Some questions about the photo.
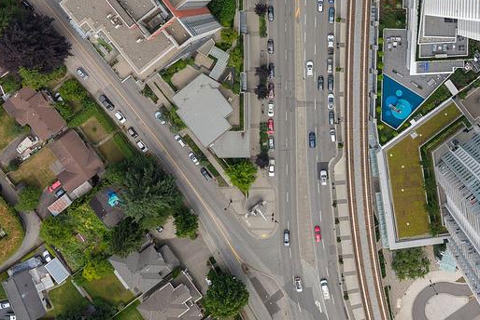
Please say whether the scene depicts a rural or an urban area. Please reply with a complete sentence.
It looks urban.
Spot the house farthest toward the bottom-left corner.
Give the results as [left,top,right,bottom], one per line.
[3,255,73,320]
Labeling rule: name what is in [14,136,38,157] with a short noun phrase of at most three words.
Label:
camper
